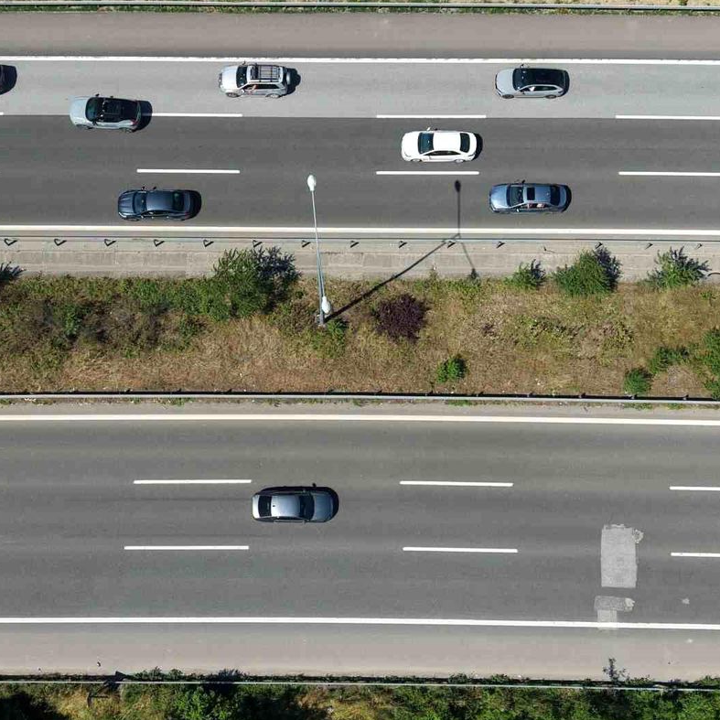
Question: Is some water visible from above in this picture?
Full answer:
No, there is no water in the image.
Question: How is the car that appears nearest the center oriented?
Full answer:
The car that appears nearest the center is laid out from side to side.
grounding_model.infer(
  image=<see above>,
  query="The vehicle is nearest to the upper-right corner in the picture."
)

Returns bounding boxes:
[495,59,568,98]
